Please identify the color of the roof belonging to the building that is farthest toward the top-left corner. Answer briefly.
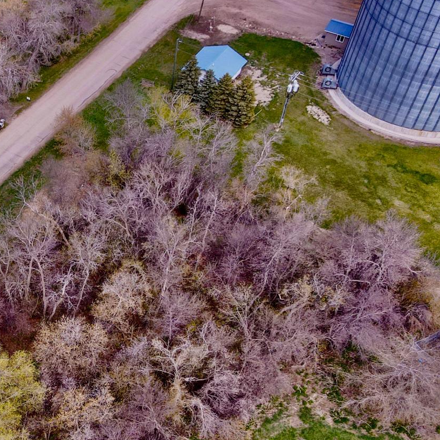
blue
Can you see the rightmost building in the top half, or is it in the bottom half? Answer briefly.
top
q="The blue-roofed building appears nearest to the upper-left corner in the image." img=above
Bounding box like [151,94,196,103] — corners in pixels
[176,42,247,82]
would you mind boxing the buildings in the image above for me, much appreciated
[176,42,247,82]
[324,20,357,52]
